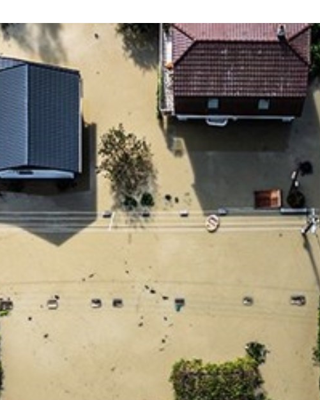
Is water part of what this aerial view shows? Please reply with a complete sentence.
Yes, water shows up in the scene.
